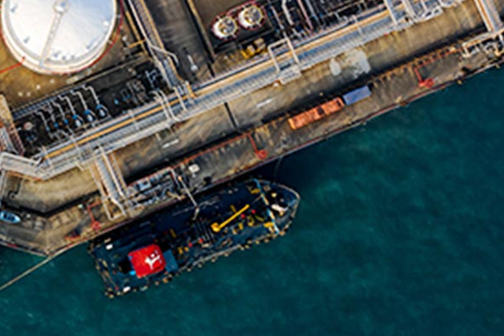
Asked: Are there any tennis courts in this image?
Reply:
No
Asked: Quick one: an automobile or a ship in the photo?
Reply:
ship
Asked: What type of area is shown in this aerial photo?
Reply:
industrial area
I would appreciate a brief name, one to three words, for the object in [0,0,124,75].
storage tank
